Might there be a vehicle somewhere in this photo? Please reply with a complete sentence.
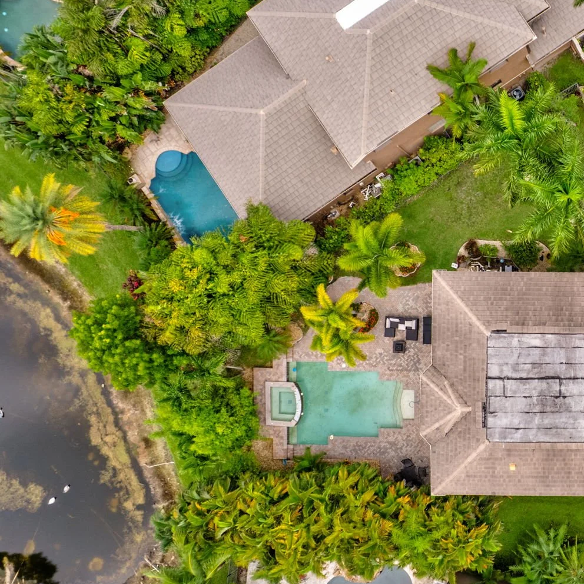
No, the photo shows no vehicle.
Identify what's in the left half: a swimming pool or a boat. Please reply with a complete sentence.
Visible in the left half is a swimming pool.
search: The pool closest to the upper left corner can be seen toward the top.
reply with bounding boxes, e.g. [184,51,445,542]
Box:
[0,0,66,67]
